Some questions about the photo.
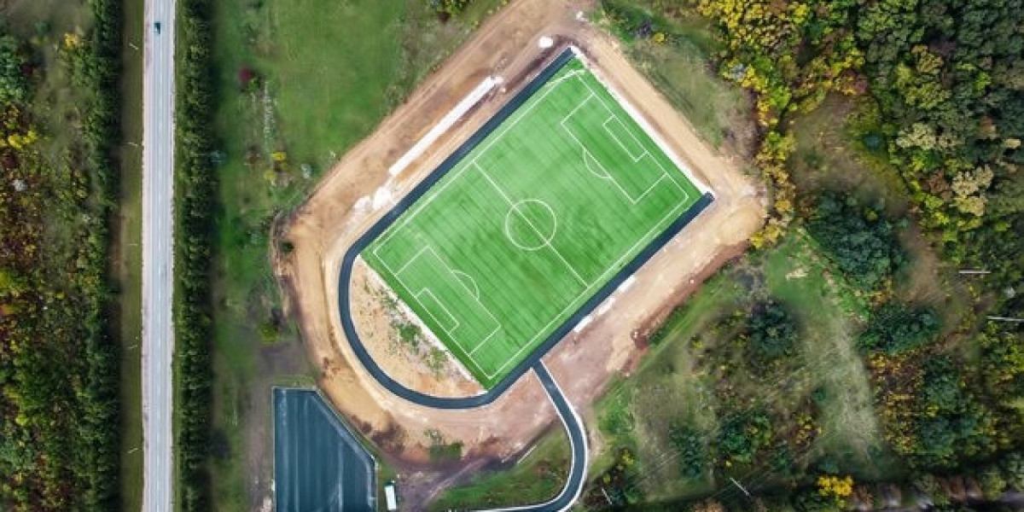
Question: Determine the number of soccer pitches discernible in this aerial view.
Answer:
1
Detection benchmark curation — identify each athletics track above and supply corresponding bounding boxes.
[338,50,714,409]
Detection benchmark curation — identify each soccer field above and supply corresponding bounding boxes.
[362,59,700,390]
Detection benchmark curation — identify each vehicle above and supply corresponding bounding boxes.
[383,480,395,509]
[153,21,159,33]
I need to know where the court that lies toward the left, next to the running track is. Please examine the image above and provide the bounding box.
[272,388,377,512]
